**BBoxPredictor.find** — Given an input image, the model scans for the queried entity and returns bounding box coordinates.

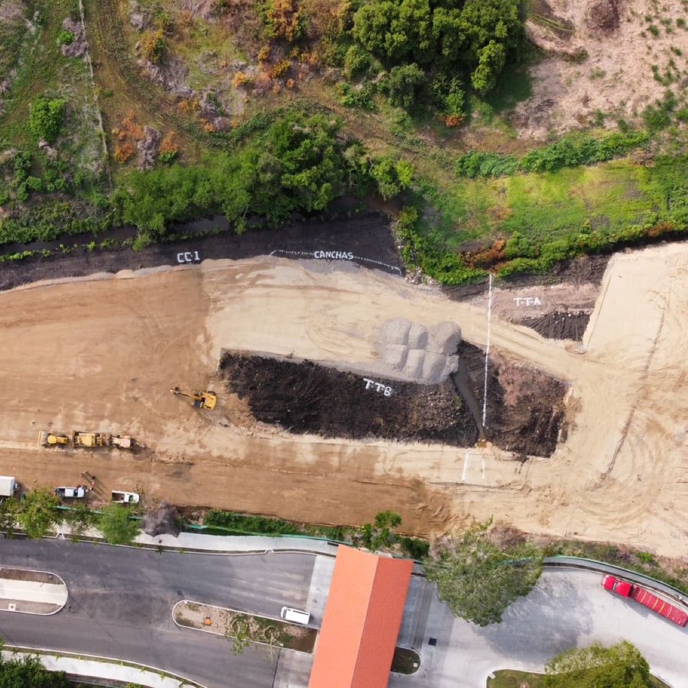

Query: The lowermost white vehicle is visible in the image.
[280,605,310,626]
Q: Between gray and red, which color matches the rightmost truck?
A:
red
